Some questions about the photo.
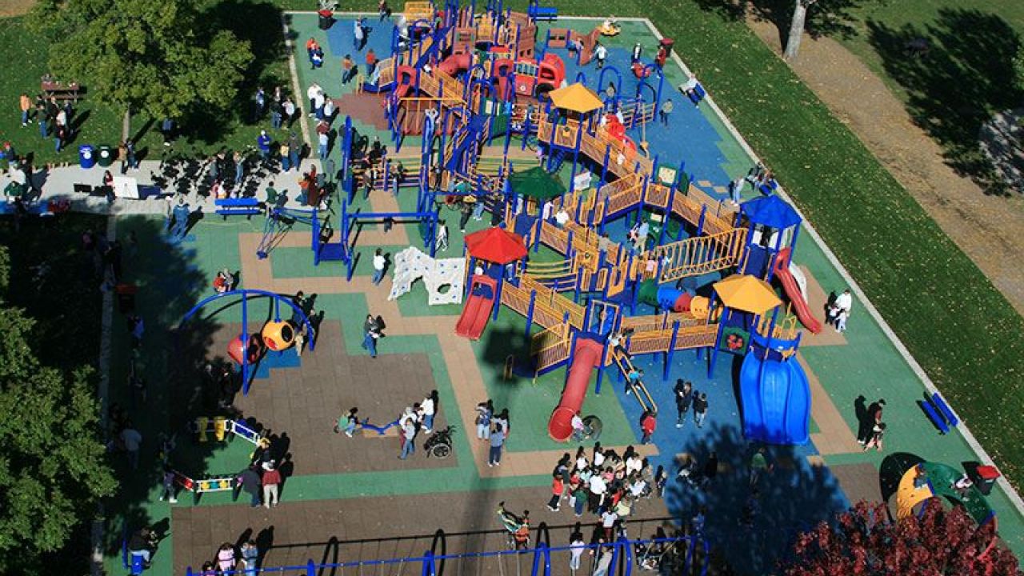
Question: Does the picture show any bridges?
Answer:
Yes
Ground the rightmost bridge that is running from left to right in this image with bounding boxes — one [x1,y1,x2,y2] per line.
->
[648,229,756,282]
